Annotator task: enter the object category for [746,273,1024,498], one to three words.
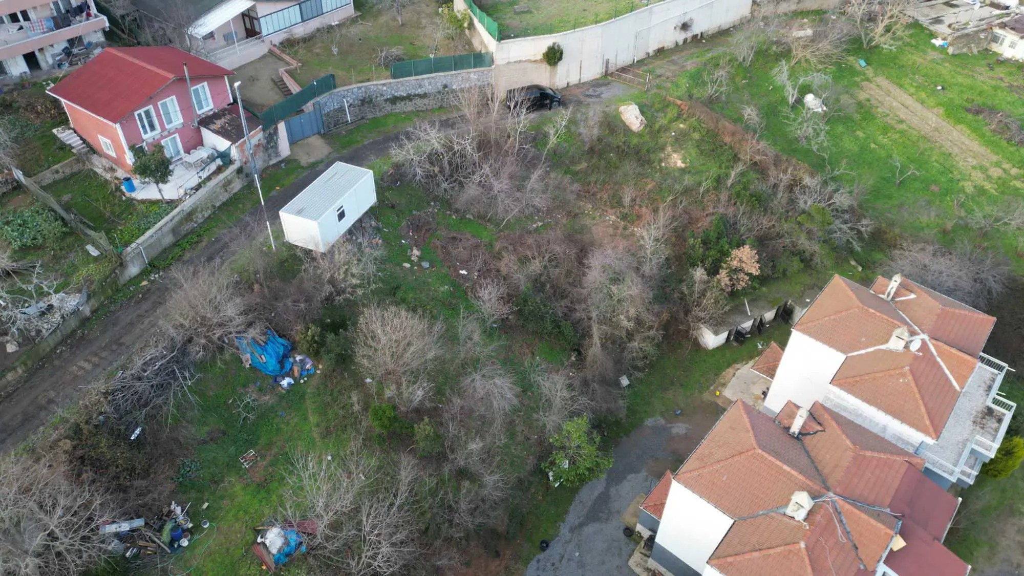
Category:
house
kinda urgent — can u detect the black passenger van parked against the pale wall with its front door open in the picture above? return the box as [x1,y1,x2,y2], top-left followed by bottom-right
[507,82,564,112]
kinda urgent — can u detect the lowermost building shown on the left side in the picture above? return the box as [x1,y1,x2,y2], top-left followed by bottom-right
[280,162,379,266]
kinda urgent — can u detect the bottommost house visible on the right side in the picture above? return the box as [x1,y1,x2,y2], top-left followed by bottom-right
[637,396,971,576]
